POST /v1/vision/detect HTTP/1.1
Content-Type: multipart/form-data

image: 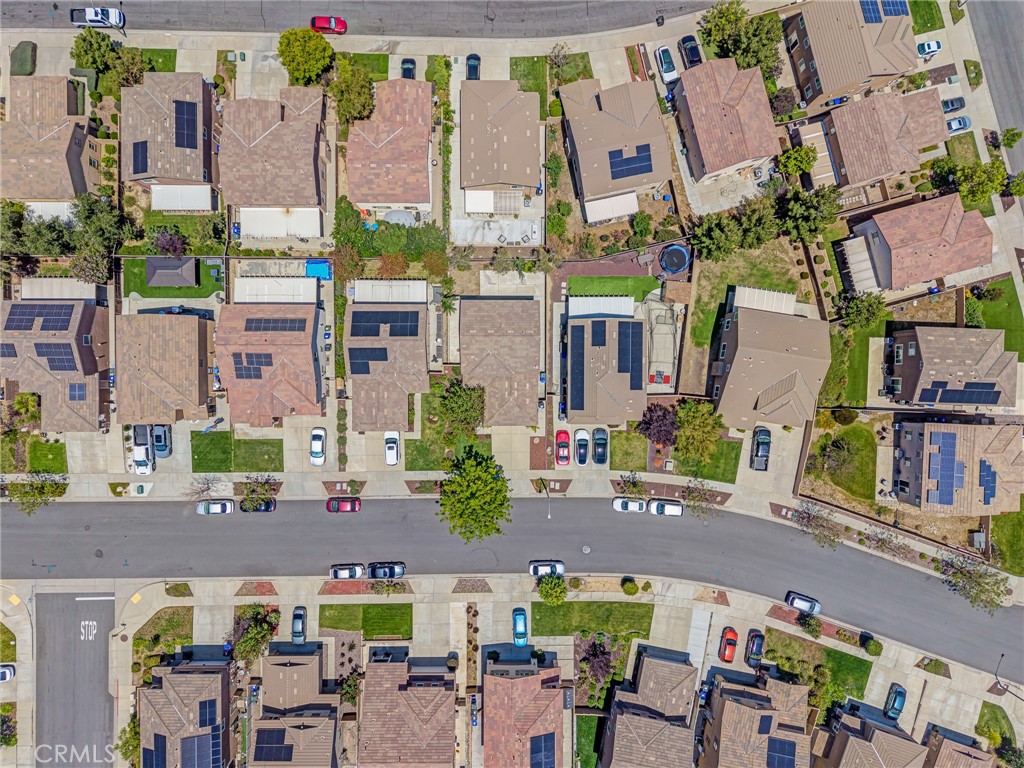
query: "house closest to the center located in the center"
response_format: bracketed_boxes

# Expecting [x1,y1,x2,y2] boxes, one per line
[459,298,541,426]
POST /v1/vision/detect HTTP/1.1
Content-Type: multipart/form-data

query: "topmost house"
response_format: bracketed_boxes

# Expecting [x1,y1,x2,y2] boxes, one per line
[781,0,916,106]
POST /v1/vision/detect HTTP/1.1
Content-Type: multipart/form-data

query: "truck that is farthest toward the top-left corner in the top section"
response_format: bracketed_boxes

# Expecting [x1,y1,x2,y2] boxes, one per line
[71,6,124,28]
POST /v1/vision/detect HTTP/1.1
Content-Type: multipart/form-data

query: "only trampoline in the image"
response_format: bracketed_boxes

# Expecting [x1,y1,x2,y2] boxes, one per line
[659,243,692,275]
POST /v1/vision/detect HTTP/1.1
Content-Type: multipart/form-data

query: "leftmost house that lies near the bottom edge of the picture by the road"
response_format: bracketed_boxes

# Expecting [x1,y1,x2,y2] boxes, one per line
[139,657,235,768]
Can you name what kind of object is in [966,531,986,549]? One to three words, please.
shed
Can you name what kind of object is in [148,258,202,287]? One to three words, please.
gazebo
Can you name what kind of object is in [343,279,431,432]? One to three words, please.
house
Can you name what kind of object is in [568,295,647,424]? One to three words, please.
house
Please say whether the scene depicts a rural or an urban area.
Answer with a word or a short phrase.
urban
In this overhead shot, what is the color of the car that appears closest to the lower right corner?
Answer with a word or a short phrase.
blue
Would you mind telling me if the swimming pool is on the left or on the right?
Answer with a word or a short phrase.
left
